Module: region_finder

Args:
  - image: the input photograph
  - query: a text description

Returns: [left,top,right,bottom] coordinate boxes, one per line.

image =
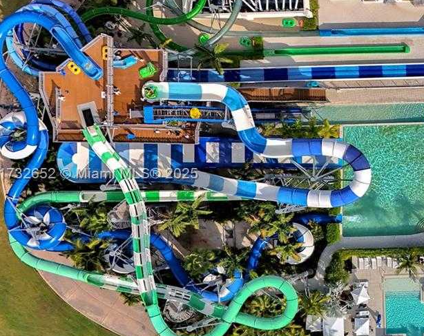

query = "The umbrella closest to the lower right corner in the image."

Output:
[355,318,371,334]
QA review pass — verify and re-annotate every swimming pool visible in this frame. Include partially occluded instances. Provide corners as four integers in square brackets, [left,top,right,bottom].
[305,103,424,236]
[385,276,424,336]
